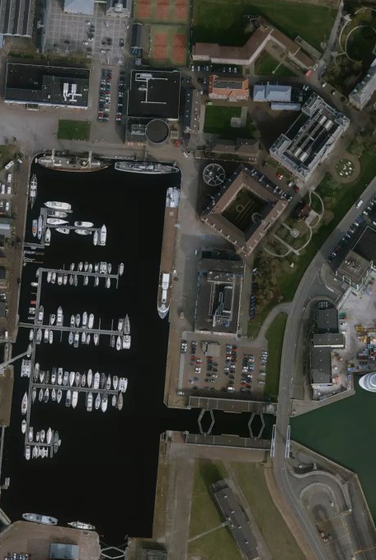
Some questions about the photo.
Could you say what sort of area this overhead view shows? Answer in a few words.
port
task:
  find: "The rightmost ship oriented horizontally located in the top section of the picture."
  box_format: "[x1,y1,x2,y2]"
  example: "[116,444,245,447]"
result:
[114,160,179,173]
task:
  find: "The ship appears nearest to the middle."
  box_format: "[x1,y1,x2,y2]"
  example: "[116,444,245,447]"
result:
[158,272,172,319]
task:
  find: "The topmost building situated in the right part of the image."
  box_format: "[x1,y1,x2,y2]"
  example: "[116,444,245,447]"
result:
[194,15,320,73]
